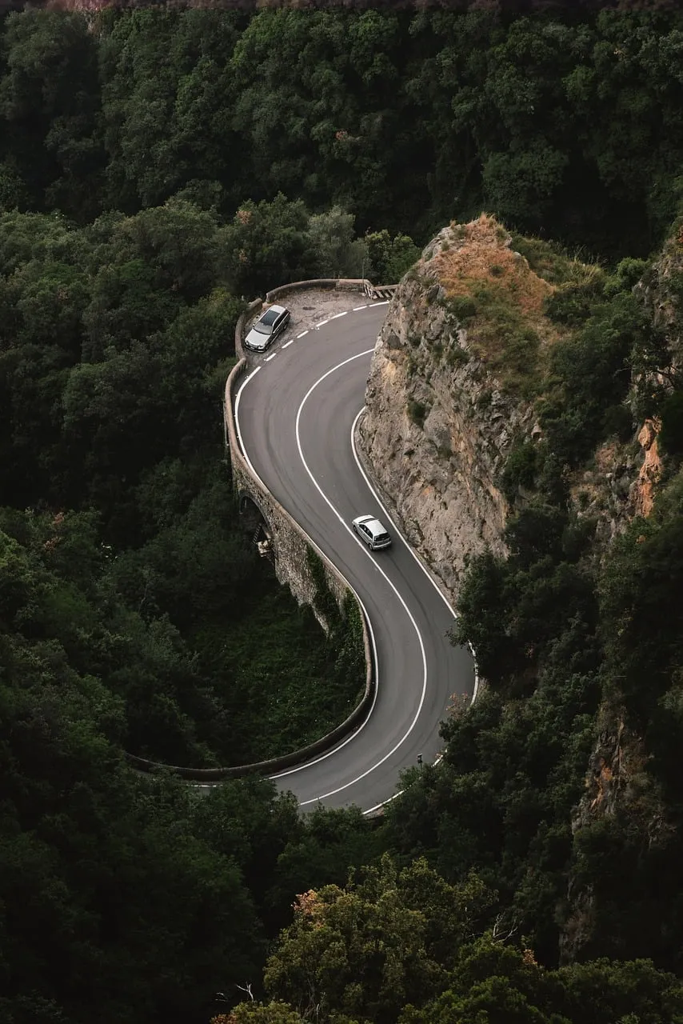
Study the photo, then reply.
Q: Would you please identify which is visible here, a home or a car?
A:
car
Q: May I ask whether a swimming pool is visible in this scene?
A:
No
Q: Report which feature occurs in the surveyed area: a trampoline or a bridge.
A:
bridge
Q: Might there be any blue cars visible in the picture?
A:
No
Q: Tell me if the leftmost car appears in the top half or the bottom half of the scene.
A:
top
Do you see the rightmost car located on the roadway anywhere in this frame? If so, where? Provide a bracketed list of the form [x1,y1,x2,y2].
[353,515,392,550]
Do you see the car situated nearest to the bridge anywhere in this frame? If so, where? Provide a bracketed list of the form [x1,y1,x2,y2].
[245,308,290,350]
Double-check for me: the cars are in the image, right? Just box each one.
[353,515,392,550]
[245,308,290,350]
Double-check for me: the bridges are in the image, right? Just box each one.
[100,358,372,782]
